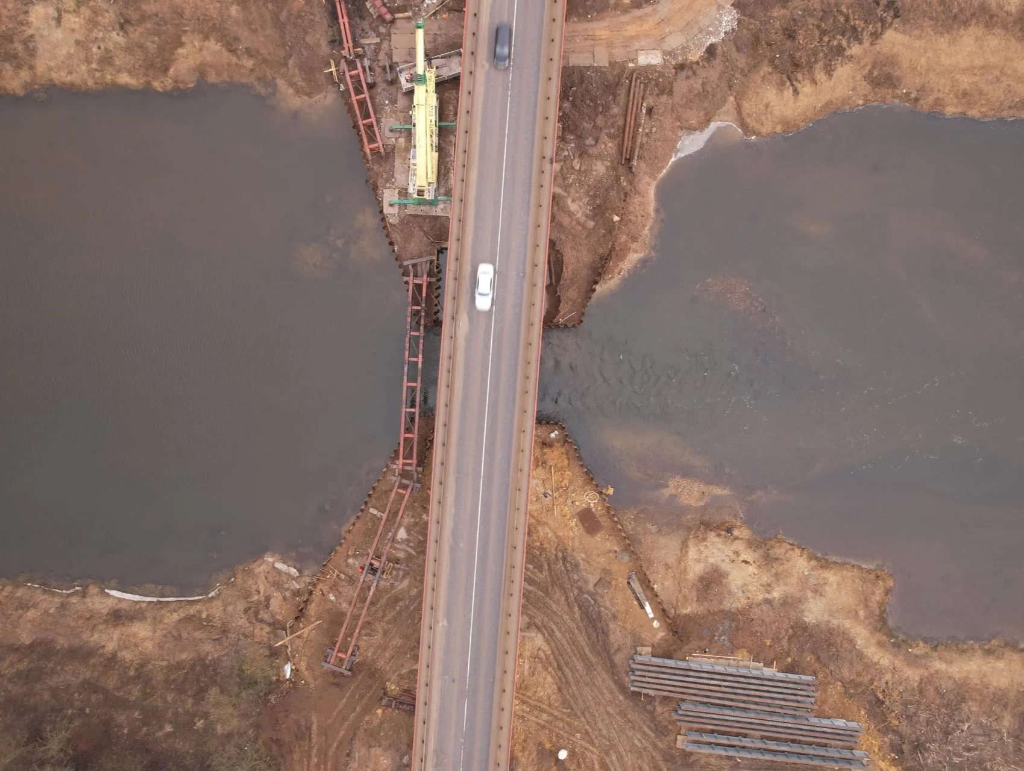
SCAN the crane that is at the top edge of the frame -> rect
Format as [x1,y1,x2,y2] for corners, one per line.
[387,17,455,207]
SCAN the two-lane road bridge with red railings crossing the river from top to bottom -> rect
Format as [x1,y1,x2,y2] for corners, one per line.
[410,0,567,771]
